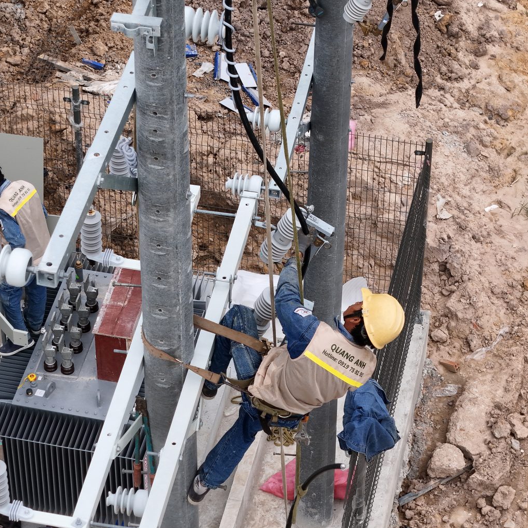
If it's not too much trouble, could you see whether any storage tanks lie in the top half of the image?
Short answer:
No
